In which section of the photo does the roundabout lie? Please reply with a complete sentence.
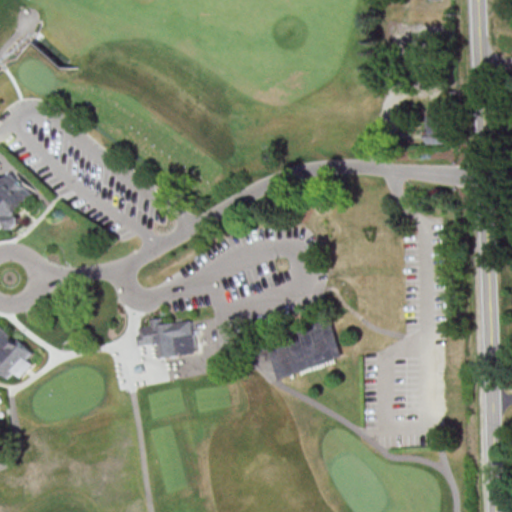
Look in the left portion of the view to spot the roundabout.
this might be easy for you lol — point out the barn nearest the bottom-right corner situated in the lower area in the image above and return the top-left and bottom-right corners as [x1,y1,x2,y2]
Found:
[271,326,340,378]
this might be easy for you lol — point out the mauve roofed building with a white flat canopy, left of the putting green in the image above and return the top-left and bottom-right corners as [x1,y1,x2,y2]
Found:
[0,332,30,380]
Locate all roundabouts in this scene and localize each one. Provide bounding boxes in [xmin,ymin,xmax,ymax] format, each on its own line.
[0,242,68,322]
